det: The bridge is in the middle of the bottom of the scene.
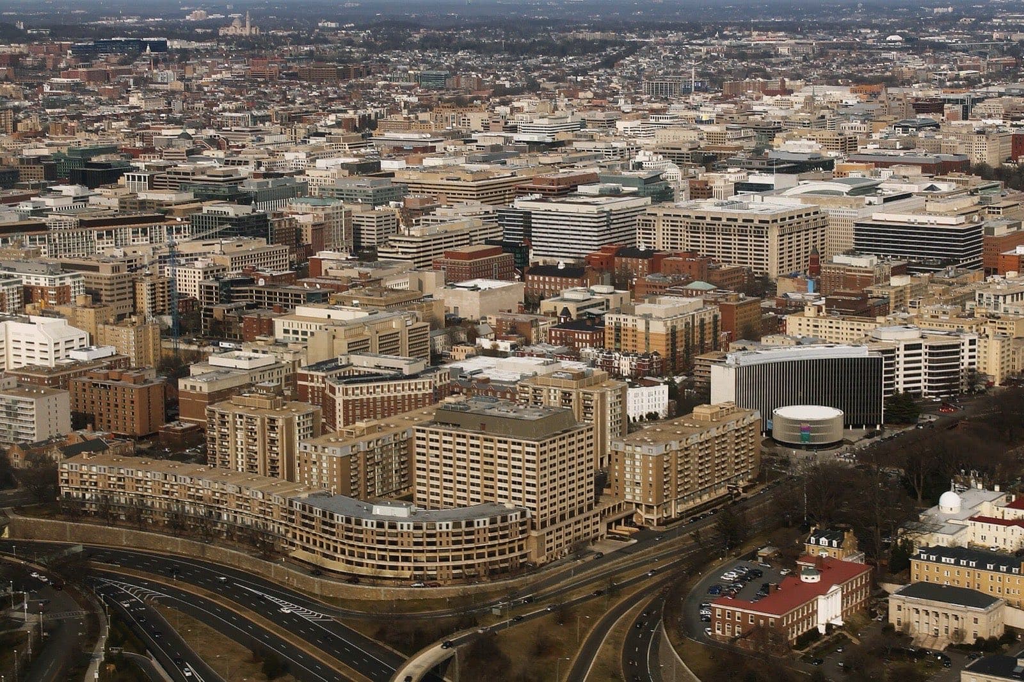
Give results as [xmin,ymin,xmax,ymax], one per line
[388,634,506,682]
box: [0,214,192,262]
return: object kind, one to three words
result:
building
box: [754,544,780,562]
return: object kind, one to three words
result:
shed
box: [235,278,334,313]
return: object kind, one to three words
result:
building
